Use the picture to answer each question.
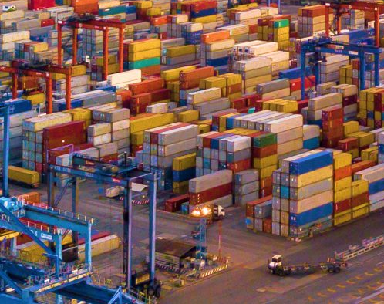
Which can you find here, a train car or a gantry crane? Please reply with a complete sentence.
There is a gantry crane in the scene.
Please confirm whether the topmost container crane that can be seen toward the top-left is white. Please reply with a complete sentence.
No, the color of the topmost container crane that can be seen toward the top-left is red.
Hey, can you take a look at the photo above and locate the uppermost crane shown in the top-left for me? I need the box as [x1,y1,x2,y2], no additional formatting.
[55,14,133,82]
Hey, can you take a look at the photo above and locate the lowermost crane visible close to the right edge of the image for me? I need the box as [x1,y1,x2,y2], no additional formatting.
[298,38,384,99]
